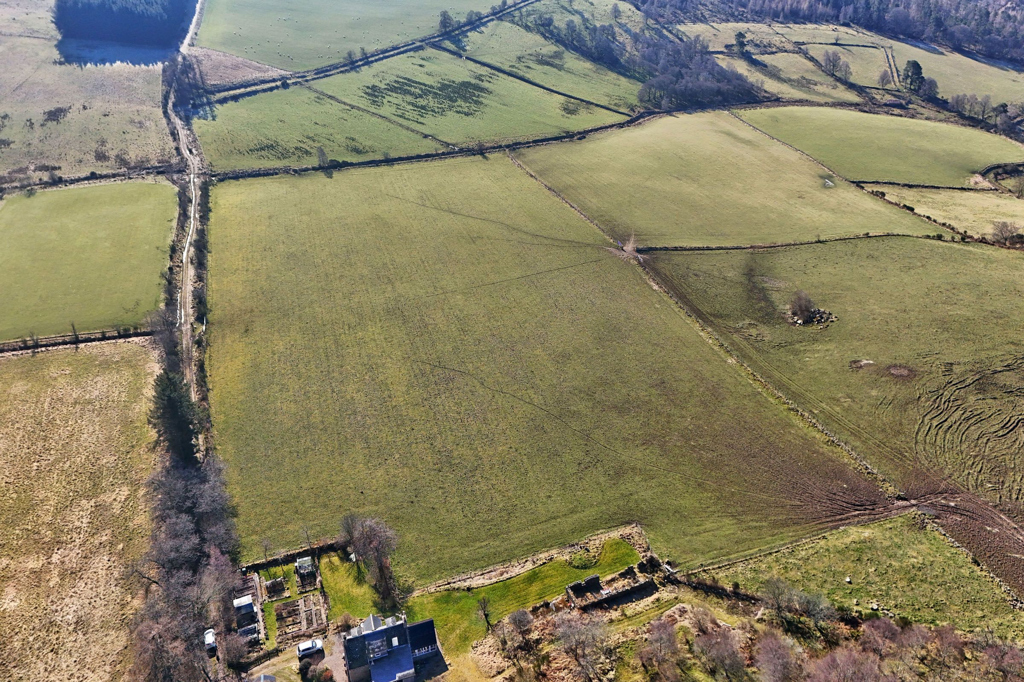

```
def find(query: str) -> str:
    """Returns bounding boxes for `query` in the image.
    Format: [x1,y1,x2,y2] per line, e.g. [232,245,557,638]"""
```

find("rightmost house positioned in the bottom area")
[340,608,442,682]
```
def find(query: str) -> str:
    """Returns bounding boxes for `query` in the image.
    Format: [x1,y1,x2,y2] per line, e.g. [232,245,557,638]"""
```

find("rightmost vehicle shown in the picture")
[296,644,322,660]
